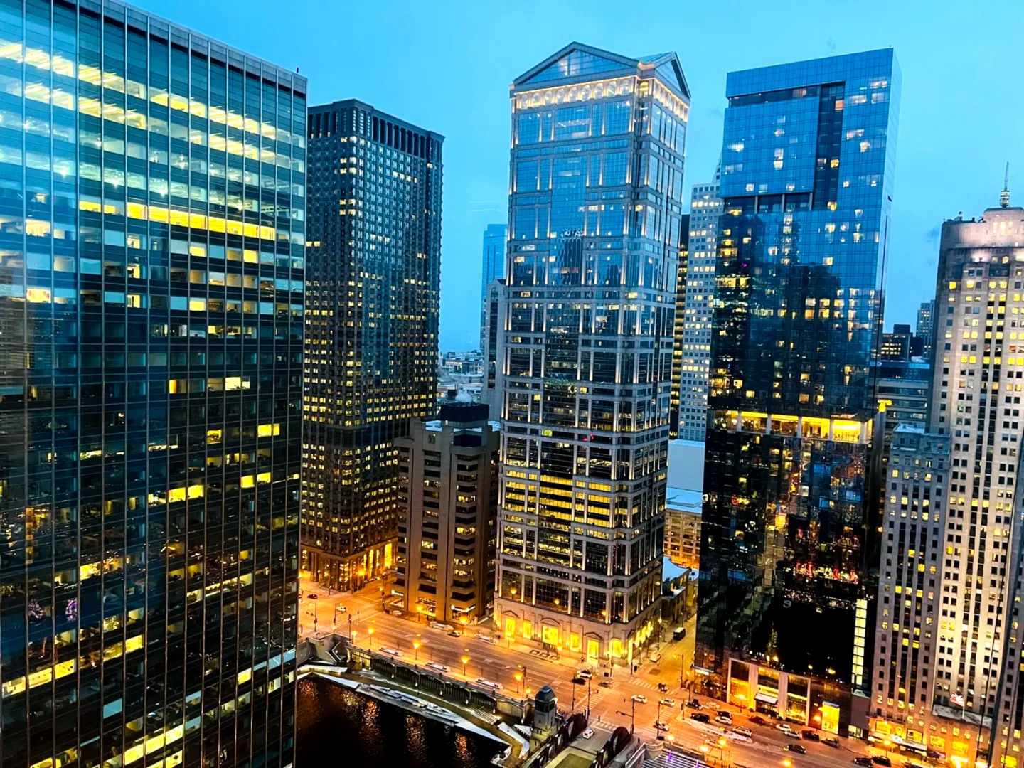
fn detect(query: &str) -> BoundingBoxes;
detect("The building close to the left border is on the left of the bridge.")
[0,0,312,768]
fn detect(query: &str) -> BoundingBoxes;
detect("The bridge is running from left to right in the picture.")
[513,711,647,768]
